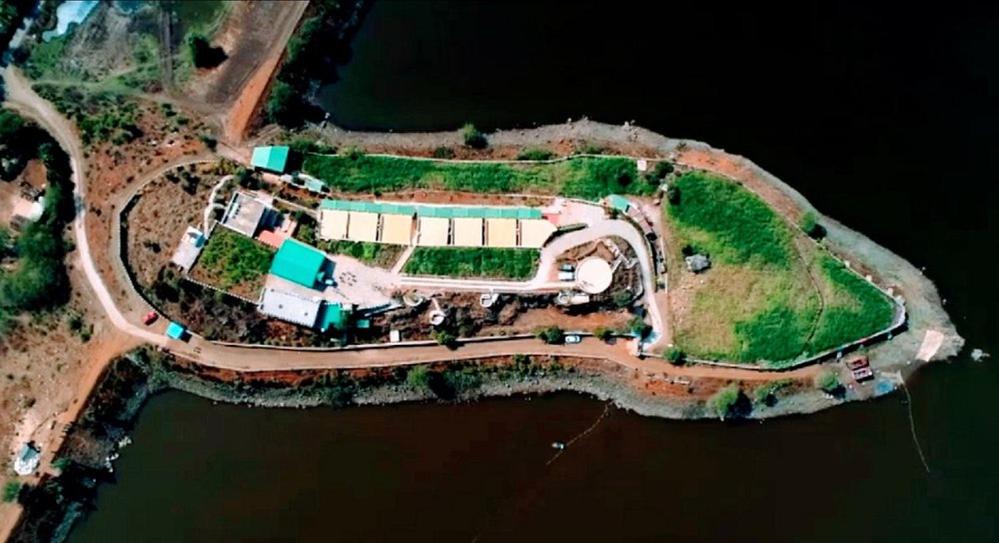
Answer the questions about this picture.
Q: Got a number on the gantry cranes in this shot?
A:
zero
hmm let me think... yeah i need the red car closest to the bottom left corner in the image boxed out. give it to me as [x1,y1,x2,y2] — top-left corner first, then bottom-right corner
[141,311,157,325]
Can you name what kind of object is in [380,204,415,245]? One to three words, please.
house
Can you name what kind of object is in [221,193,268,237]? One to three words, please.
building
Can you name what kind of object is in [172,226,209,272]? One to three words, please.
shed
